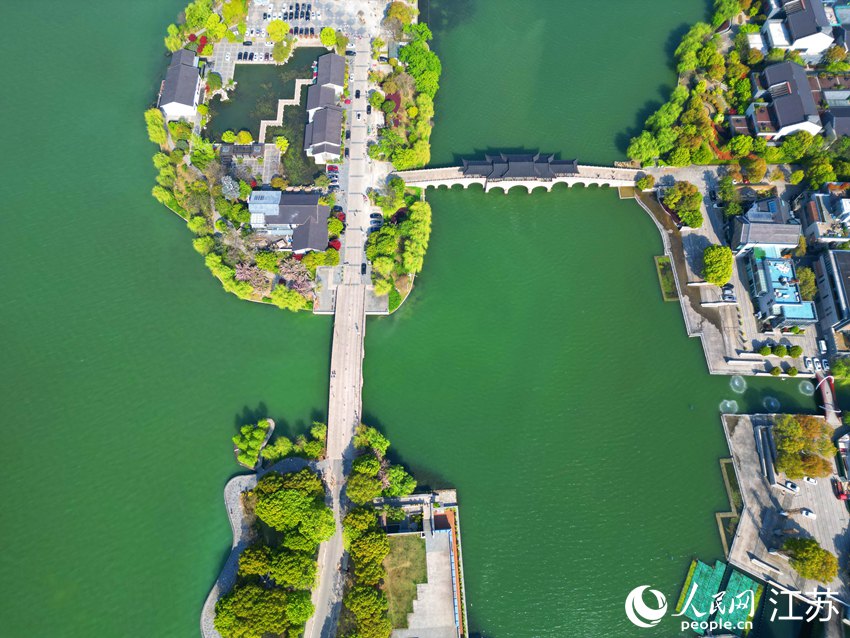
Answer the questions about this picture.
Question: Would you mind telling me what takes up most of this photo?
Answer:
water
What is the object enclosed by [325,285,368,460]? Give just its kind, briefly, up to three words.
bridge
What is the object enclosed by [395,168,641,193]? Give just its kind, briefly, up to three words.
bridge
